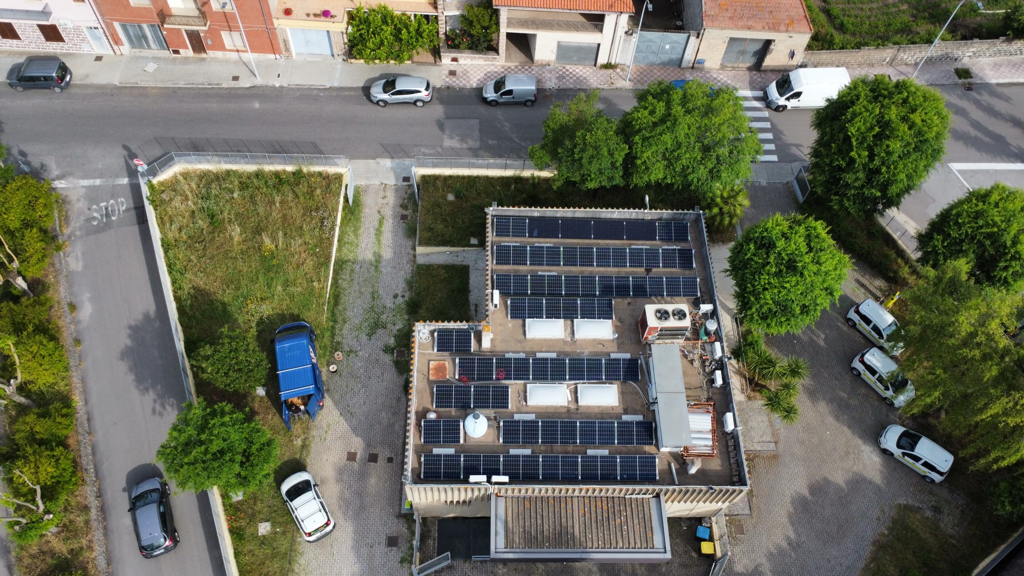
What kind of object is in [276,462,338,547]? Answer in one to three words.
car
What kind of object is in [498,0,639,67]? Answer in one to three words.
house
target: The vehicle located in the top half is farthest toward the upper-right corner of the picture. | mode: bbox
[764,67,854,112]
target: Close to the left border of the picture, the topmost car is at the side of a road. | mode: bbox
[7,59,71,92]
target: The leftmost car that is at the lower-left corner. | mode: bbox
[121,477,179,572]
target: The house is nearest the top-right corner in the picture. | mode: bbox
[692,0,821,71]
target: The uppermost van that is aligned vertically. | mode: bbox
[274,325,327,426]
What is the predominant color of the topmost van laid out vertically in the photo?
blue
